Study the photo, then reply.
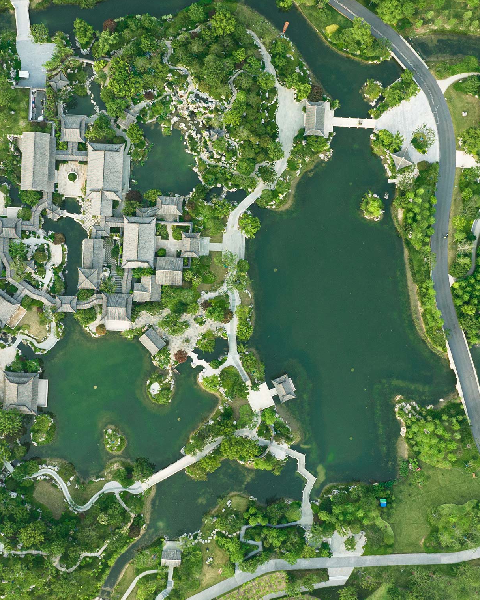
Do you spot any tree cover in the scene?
Yes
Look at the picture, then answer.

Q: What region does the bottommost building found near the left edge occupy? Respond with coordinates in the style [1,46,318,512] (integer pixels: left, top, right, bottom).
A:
[1,369,43,416]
